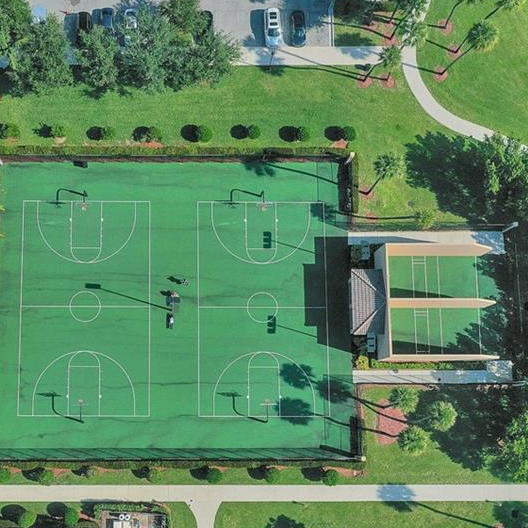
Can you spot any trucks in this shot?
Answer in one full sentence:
No, there isn't any truck down there.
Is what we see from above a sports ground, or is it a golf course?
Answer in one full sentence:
The picture captures a sports ground.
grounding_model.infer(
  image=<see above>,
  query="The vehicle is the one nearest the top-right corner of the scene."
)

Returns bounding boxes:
[289,11,307,47]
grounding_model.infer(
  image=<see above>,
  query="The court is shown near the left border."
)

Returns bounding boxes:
[0,163,174,458]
